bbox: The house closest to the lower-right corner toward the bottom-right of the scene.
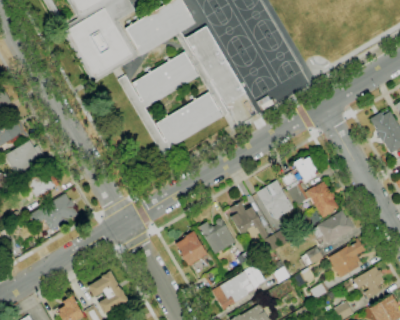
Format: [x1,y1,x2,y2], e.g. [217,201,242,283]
[370,296,400,320]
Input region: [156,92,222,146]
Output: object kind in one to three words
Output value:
building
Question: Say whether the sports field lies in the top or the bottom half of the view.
top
